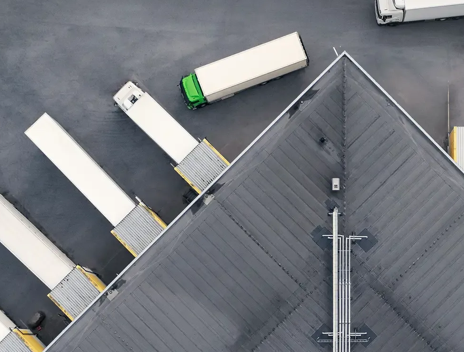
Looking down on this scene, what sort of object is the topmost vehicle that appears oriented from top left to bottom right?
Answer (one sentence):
Looking closely, the topmost vehicle that appears oriented from top left to bottom right is a truck.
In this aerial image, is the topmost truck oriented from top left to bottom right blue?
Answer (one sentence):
No, the topmost truck oriented from top left to bottom right is white.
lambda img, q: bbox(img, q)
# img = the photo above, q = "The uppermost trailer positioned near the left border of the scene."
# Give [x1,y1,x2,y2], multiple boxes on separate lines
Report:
[21,109,137,226]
